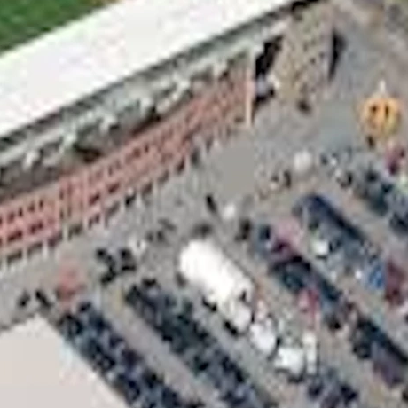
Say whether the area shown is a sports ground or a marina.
sports ground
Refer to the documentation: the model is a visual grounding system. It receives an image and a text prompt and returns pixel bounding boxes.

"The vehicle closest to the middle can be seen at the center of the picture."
[195,195,219,210]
